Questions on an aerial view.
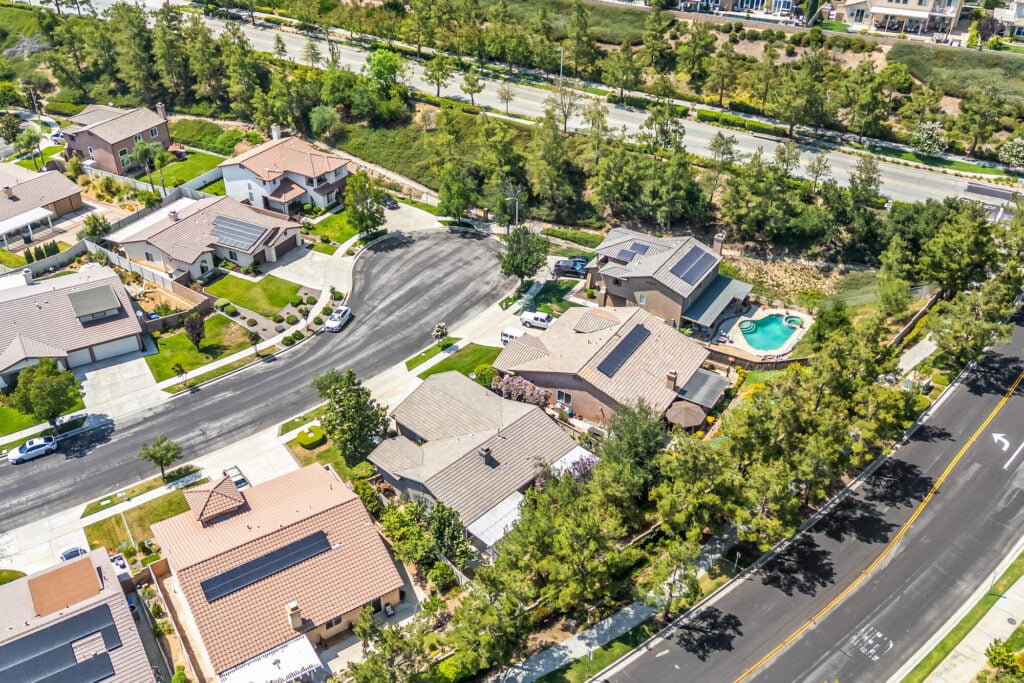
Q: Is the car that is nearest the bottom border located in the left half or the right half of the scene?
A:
left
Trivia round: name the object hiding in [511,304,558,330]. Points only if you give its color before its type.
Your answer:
white truck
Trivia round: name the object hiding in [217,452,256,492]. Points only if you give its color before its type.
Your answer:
white truck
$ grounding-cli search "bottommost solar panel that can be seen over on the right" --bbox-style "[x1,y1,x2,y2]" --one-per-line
[598,321,653,373]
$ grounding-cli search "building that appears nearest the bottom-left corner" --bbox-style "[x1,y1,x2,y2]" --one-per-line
[0,546,179,683]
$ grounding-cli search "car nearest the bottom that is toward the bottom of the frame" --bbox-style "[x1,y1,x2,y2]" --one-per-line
[53,534,88,564]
